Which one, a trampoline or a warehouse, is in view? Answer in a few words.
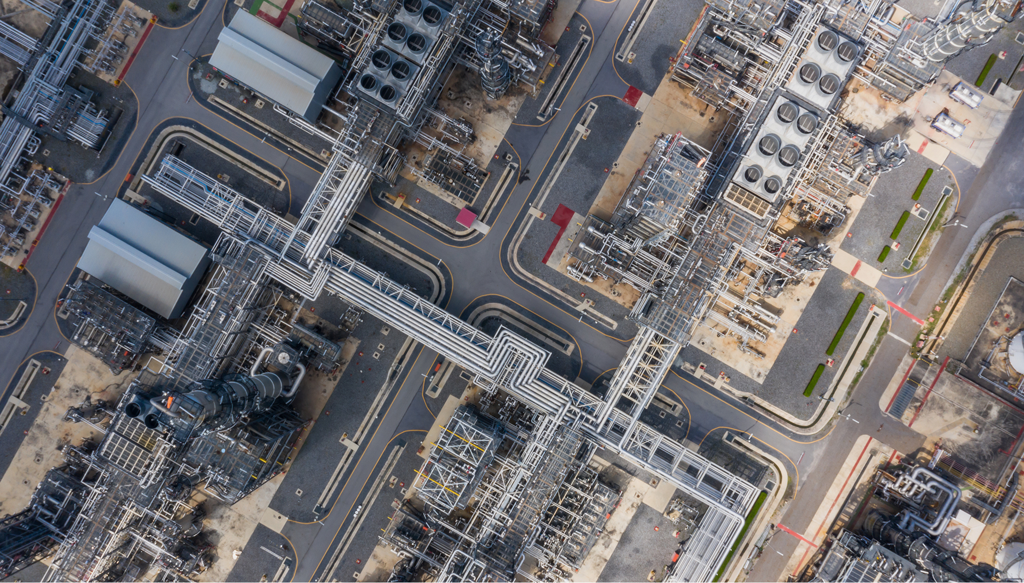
warehouse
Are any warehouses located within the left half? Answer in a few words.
Yes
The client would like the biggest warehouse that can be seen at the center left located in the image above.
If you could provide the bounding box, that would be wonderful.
[78,197,219,320]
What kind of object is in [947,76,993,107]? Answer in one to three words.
trailer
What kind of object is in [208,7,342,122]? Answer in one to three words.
warehouse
